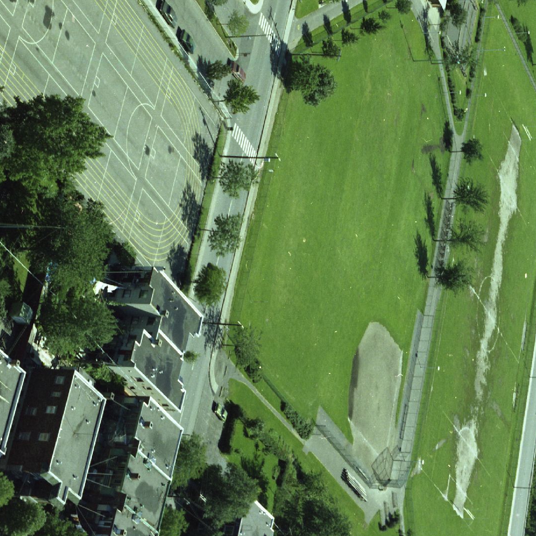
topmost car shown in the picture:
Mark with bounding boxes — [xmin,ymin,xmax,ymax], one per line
[163,0,181,30]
